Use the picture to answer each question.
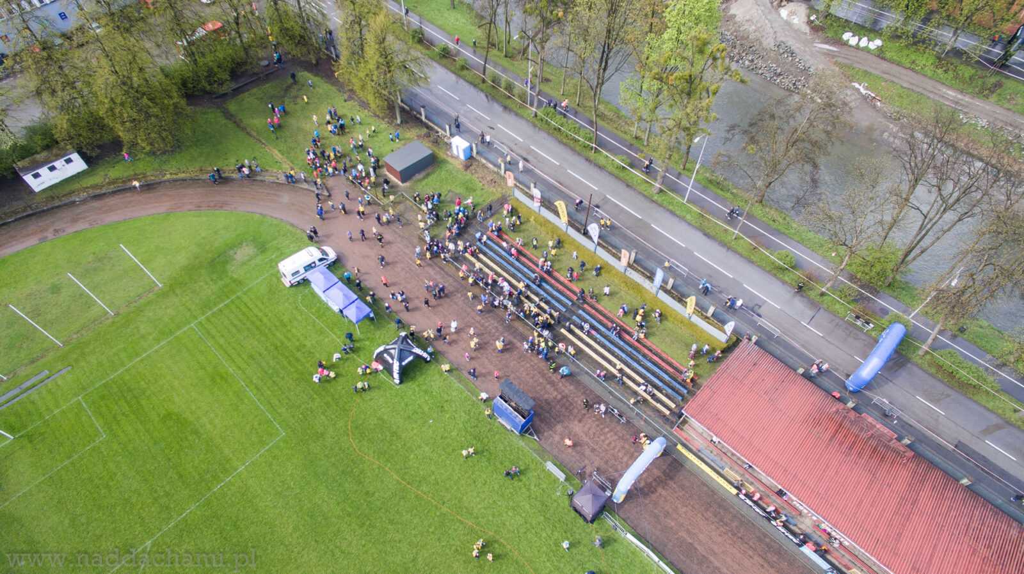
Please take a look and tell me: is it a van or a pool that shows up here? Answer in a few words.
van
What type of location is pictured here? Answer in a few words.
sports ground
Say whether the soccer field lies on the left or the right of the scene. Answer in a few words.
left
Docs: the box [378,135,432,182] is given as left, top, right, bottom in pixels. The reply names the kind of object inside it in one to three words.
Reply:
shed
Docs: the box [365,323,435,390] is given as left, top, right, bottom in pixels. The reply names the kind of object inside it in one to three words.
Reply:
tent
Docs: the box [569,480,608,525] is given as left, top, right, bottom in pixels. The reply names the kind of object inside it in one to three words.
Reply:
tent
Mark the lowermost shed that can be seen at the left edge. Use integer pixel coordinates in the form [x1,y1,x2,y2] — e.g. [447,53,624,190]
[17,145,86,191]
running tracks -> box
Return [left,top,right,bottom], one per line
[0,174,827,574]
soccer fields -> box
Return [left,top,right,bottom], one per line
[0,212,676,574]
